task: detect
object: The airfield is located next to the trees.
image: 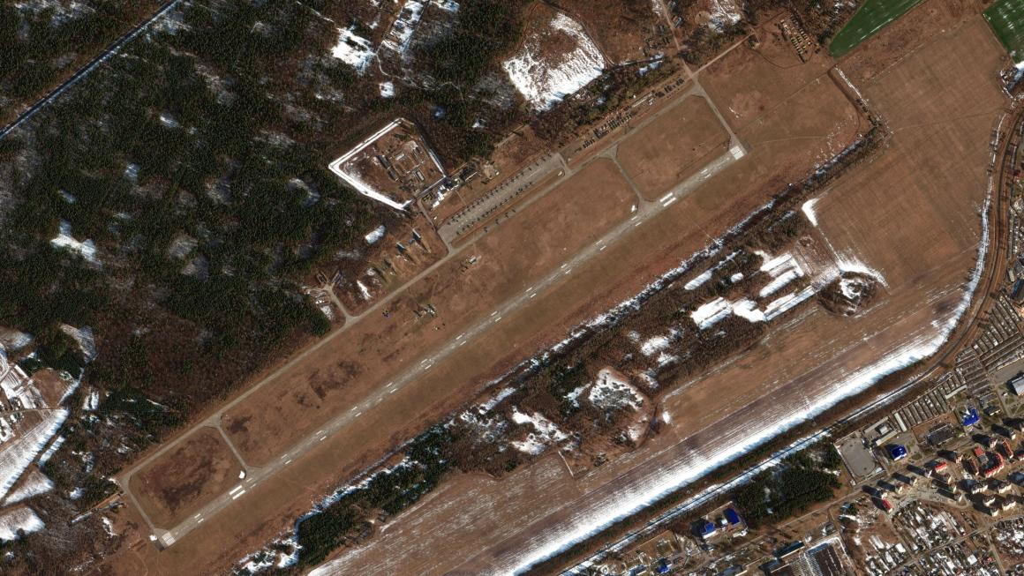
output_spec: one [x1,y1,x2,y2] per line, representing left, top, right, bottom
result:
[118,79,753,550]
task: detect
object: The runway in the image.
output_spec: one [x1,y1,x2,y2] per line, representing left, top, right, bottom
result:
[159,143,747,548]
